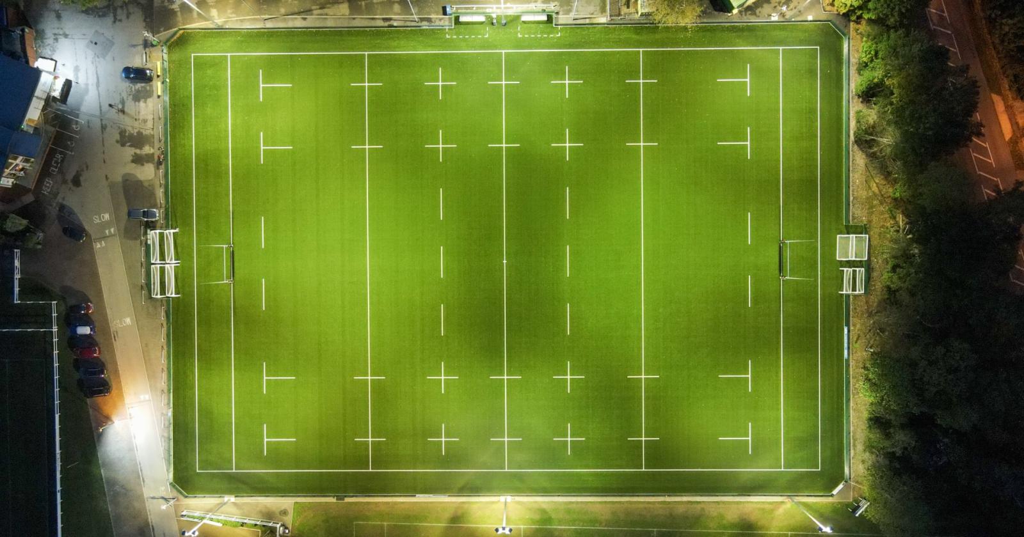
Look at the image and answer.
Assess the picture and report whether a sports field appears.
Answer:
Yes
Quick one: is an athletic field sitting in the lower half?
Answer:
Yes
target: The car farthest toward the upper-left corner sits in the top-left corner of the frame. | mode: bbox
[122,66,153,82]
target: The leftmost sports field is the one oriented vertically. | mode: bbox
[0,302,55,537]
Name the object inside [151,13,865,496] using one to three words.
sports field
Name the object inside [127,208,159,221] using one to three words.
vehicle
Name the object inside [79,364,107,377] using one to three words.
vehicle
